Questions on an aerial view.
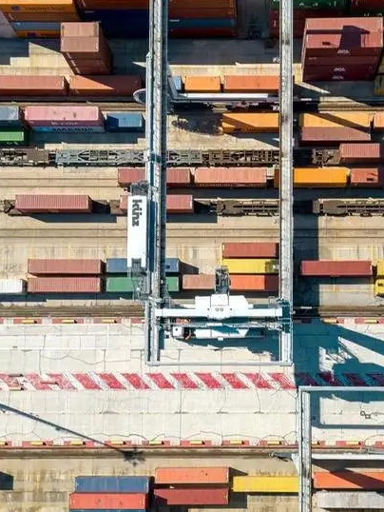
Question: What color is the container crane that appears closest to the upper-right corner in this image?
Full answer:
The container crane that appears closest to the upper-right corner is white.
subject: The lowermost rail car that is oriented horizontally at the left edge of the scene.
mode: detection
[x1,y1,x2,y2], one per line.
[2,199,109,214]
